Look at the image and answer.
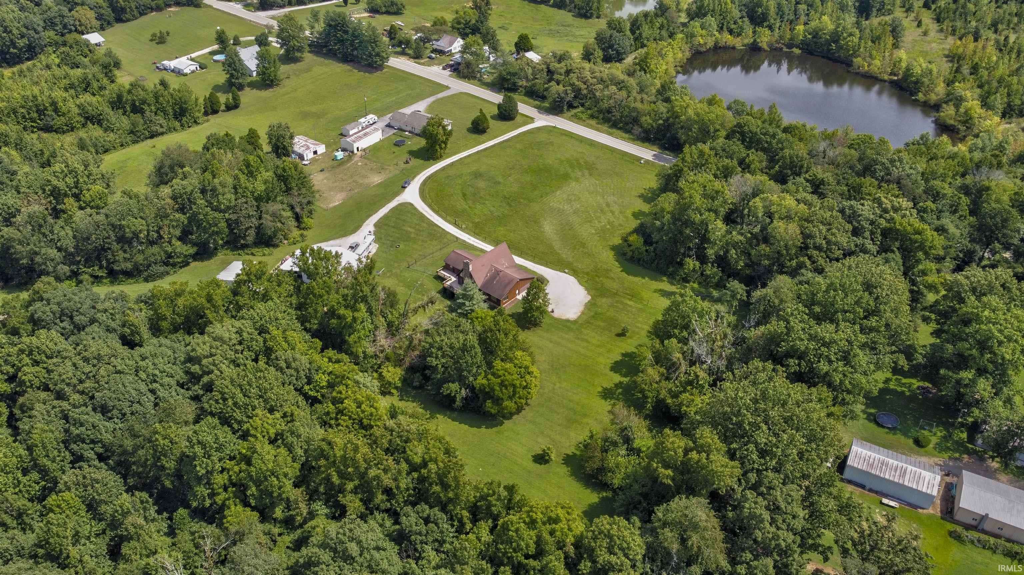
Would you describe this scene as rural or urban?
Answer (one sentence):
The area is rural.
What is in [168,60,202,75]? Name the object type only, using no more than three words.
building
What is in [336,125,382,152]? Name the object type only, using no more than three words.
shed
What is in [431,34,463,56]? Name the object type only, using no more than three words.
house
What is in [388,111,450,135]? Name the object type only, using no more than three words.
house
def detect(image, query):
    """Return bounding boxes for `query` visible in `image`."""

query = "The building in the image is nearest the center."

[436,241,537,307]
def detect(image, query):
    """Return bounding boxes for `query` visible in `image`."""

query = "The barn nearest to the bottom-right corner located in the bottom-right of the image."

[954,468,1024,543]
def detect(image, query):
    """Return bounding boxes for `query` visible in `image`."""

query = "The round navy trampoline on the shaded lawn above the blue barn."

[874,412,901,431]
